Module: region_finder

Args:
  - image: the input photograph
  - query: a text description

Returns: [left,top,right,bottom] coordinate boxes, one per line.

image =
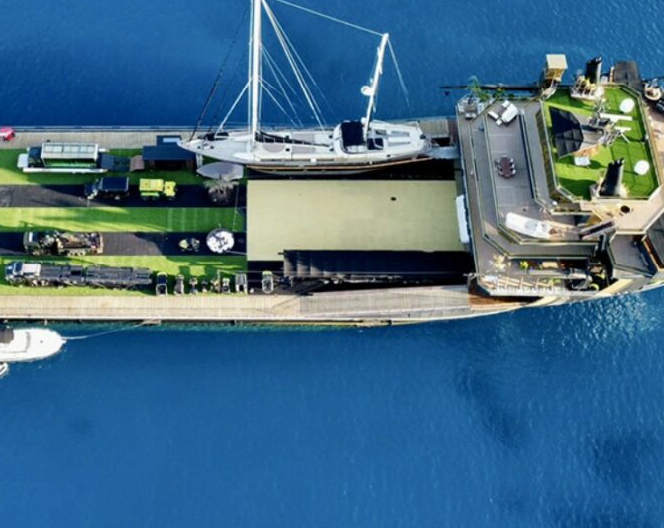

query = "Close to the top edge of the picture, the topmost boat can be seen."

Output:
[180,0,431,176]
